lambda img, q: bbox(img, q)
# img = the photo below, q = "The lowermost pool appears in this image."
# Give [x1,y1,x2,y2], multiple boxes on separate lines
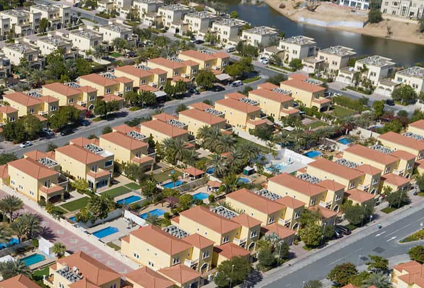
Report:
[14,251,51,268]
